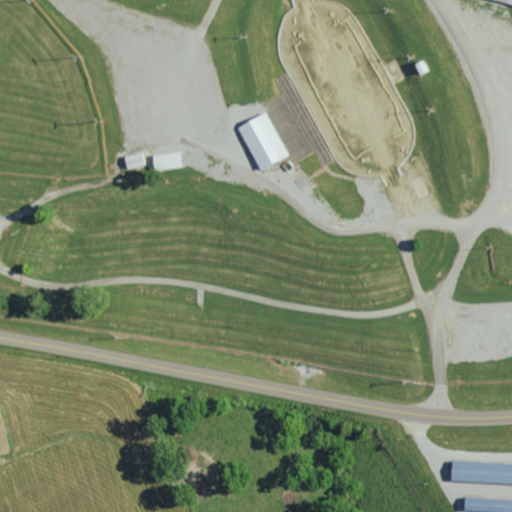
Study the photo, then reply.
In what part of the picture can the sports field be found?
top left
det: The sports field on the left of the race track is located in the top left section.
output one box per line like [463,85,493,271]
[0,0,108,178]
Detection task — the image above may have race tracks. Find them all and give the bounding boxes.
[278,0,413,188]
